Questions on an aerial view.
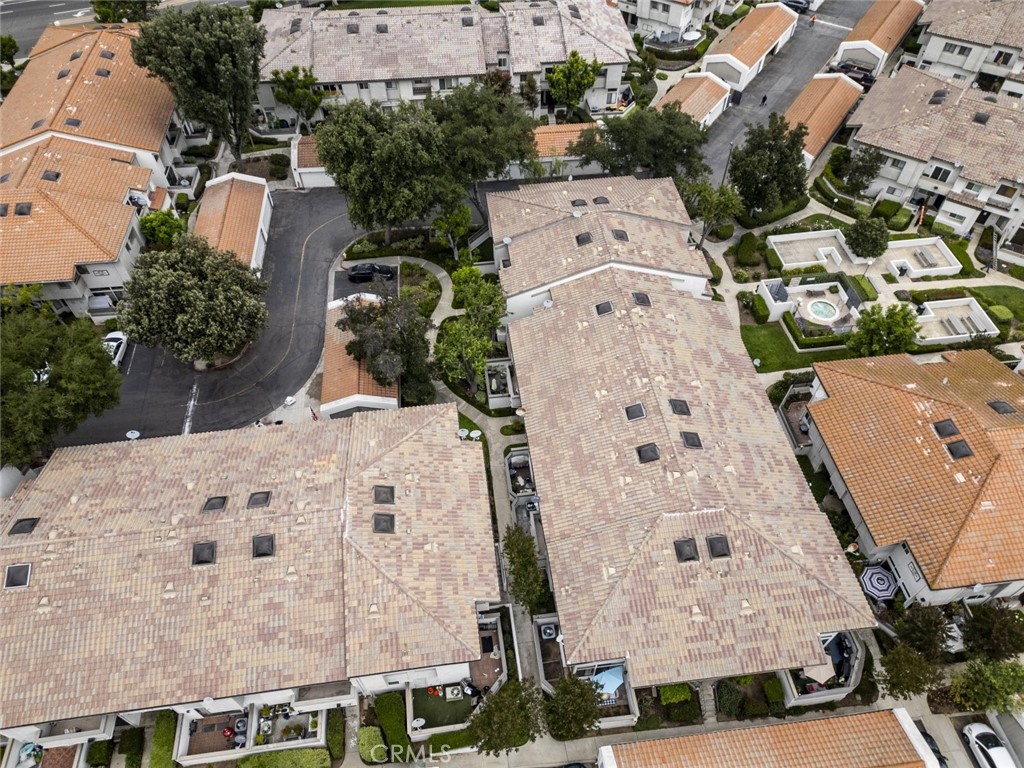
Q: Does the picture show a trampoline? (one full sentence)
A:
No, I can see no trampoline in this picture.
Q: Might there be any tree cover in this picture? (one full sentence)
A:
Yes, there is tree cover in the image.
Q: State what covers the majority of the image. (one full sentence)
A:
The largest share of the image is taken up by buildings.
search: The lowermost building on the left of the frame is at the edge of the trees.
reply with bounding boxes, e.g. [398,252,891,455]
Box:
[0,402,502,749]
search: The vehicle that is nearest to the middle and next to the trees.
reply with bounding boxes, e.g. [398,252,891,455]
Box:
[347,259,395,282]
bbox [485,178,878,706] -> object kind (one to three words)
house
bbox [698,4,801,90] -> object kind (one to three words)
building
